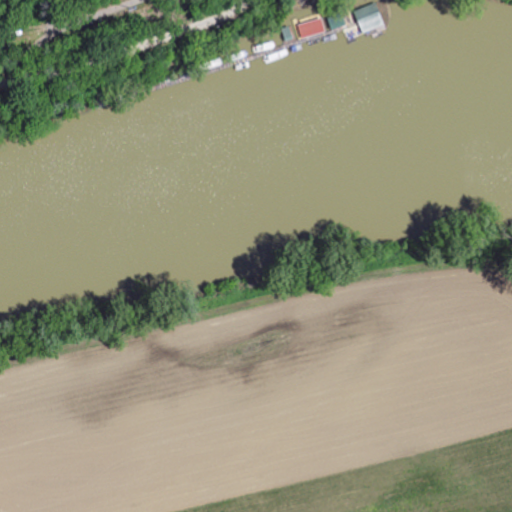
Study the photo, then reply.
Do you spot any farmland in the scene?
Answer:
Yes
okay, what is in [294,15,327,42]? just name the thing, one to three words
house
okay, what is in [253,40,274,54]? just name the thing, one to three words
boat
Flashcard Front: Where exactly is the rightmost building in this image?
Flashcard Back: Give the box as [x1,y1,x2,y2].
[353,4,386,39]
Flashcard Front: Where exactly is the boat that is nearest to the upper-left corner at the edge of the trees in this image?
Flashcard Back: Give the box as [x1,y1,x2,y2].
[204,60,221,72]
